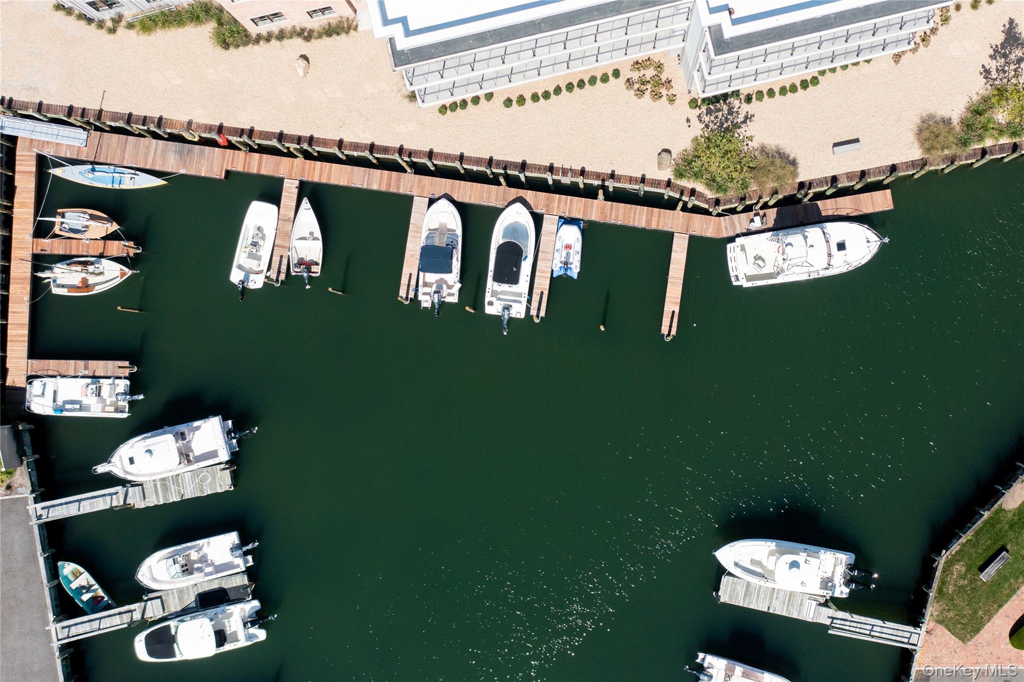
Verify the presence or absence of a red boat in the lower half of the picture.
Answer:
No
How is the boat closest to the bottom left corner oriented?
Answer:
at an angle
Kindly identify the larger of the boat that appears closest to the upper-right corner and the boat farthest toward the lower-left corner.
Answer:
the boat that appears closest to the upper-right corner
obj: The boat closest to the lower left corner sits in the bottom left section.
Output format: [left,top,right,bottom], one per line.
[58,562,118,613]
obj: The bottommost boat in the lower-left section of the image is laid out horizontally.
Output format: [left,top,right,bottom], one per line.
[133,599,276,661]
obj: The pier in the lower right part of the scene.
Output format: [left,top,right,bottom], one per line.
[720,575,820,623]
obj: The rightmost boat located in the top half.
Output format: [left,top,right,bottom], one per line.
[726,219,889,288]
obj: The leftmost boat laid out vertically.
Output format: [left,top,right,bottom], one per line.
[231,201,279,300]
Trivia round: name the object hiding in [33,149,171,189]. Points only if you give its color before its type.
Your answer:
white boat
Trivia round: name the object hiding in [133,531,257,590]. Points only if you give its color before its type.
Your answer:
white boat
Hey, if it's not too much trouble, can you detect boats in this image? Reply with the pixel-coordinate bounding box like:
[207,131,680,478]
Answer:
[19,257,139,295]
[551,224,583,277]
[33,149,171,189]
[133,599,276,661]
[58,562,118,613]
[291,197,323,287]
[726,219,889,288]
[419,197,462,316]
[231,201,279,300]
[687,653,791,682]
[87,415,258,481]
[22,376,145,418]
[133,531,257,590]
[37,208,121,239]
[712,539,875,597]
[485,202,536,333]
